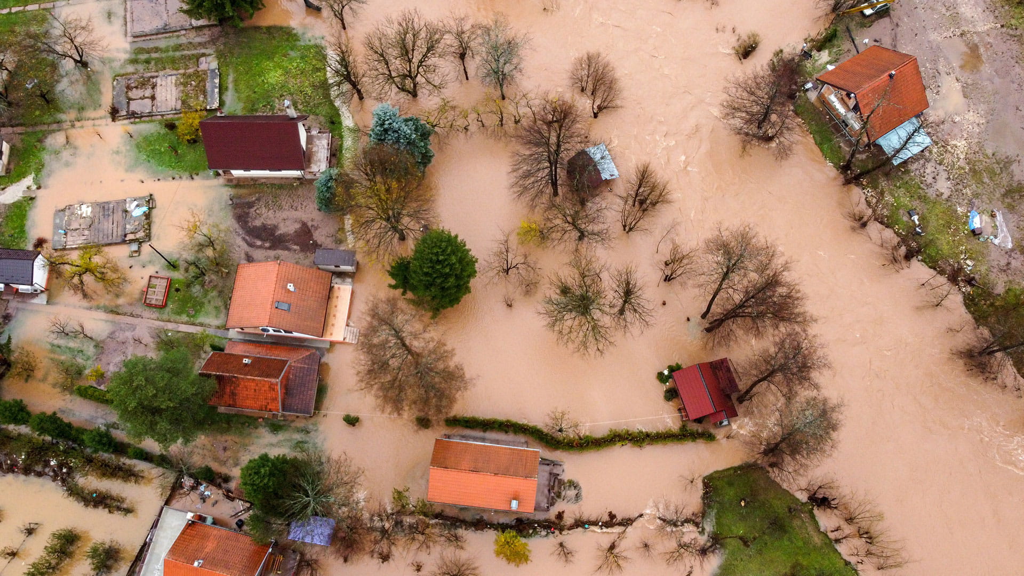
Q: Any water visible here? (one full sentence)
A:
Yes, water shows up in the scene.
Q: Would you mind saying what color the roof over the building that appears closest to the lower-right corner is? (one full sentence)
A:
The color of the roof on the building that appears closest to the lower-right corner is red.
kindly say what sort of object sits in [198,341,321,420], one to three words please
house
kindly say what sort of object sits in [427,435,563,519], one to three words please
house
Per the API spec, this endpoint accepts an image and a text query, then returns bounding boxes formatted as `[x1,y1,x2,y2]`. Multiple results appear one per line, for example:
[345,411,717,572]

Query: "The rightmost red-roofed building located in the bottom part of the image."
[671,357,740,429]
